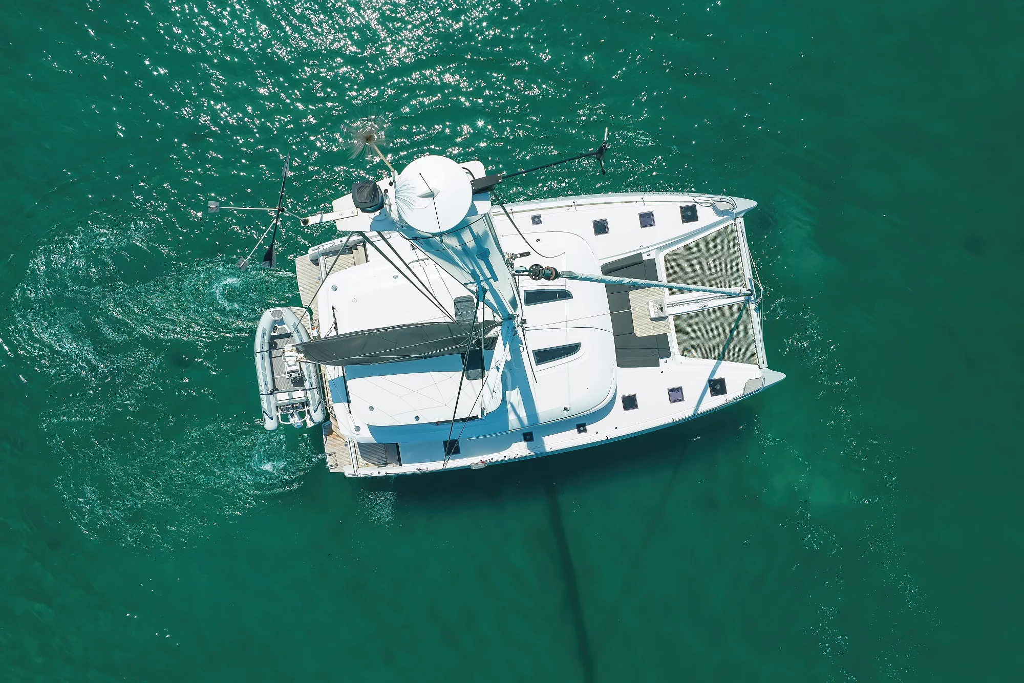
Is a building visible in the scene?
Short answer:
No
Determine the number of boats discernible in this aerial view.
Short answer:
2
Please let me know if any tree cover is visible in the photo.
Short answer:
No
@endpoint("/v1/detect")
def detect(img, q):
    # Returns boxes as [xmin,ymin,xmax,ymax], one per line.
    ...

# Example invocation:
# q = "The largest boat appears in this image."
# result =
[208,114,785,478]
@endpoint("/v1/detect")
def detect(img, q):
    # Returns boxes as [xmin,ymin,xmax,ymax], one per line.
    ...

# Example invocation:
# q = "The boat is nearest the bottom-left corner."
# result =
[253,305,324,429]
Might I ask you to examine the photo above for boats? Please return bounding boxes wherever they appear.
[253,305,324,429]
[208,114,785,478]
